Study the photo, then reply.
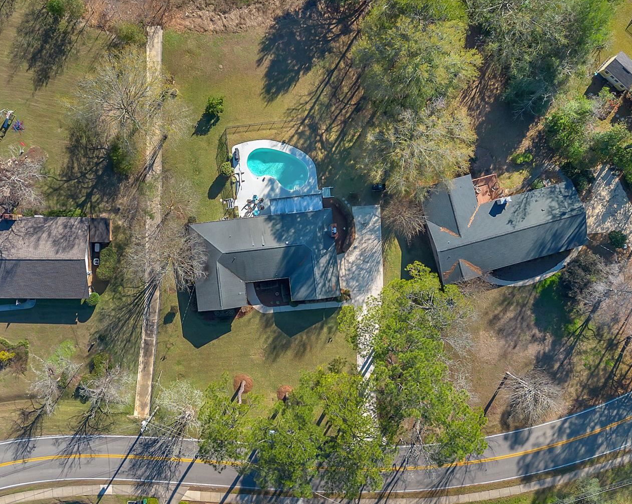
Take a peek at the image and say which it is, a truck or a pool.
pool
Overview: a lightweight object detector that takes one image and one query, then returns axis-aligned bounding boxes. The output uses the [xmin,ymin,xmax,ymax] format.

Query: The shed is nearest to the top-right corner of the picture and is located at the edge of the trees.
[599,52,632,93]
